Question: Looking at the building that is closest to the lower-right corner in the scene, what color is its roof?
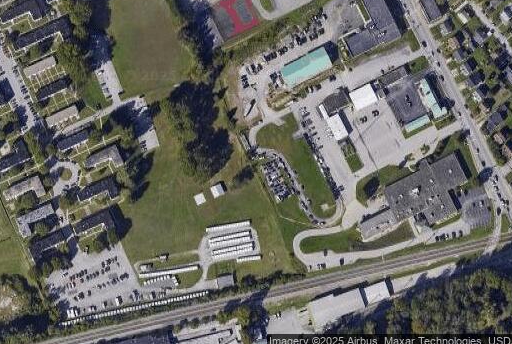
white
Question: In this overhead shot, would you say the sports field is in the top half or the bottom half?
top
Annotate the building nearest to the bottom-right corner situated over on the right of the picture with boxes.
[367,281,392,306]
